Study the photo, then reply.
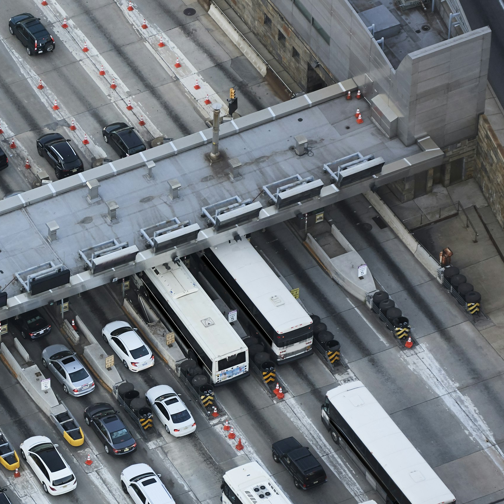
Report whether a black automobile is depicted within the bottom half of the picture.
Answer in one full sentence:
Yes, a black automobile appears within the bottom half of the picture.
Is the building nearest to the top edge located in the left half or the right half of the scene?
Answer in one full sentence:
The building nearest to the top edge is on the right side of the image.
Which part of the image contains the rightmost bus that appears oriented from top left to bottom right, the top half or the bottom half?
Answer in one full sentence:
Seen from above, the rightmost bus that appears oriented from top left to bottom right lies in the bottom half of the view.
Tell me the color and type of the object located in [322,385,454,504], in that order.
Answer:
white bus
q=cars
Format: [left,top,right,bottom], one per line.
[120,465,177,504]
[144,382,198,439]
[276,438,328,495]
[43,345,97,402]
[103,321,156,376]
[10,12,56,60]
[20,435,78,500]
[84,402,138,461]
[103,123,147,159]
[11,308,53,345]
[36,133,86,179]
